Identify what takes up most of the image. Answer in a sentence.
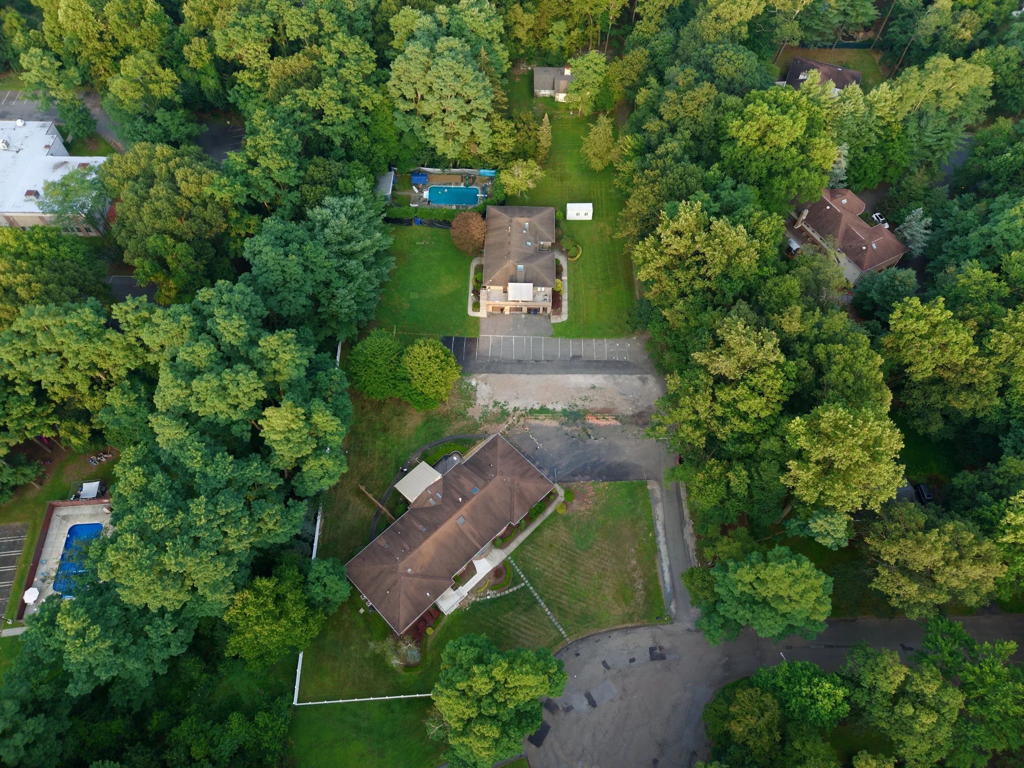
The bulk of the photo consists of trees.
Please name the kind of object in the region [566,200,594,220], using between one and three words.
shed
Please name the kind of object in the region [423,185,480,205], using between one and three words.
swimming pool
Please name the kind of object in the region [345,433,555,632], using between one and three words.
building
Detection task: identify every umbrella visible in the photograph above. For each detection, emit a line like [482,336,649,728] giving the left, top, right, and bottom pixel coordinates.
[789,238,800,250]
[20,590,40,608]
